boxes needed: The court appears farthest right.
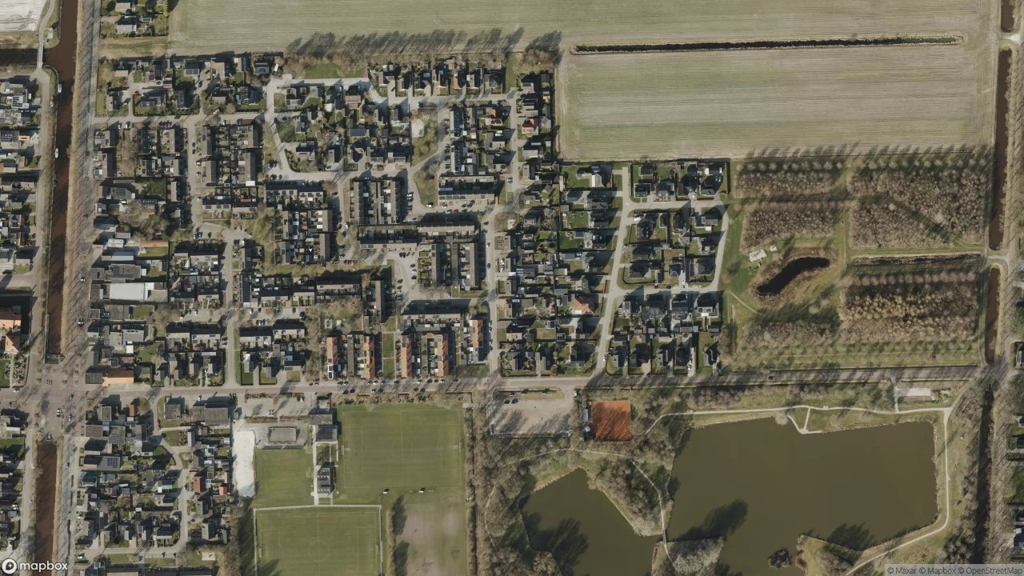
[592,399,631,441]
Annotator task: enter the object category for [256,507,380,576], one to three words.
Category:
soccer field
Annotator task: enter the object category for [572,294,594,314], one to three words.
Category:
house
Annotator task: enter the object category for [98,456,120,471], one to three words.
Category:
building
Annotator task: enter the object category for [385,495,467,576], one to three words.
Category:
sports field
